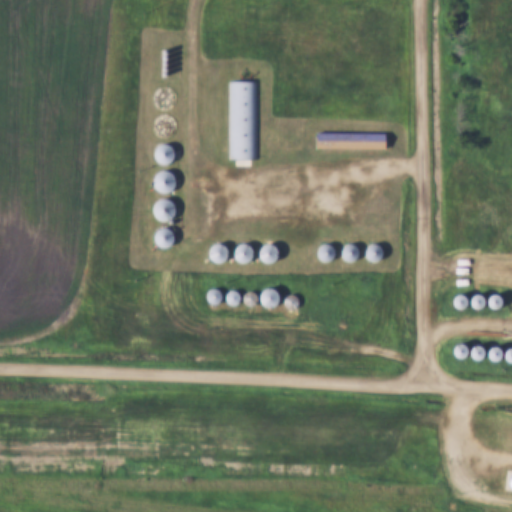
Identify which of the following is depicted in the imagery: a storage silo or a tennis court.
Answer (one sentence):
The one in the frame is a storage silo.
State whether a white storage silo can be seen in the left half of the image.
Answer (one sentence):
Yes, looking in the left half of the image, one can make out a white storage silo.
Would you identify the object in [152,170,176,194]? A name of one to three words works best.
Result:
silo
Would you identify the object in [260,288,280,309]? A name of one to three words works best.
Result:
silo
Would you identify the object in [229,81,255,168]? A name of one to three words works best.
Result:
shed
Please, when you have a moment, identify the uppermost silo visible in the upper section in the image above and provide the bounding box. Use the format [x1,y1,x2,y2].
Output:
[154,144,176,166]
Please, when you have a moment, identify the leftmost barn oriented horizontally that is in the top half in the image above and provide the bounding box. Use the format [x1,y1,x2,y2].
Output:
[316,132,388,150]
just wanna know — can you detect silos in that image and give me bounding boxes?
[206,289,223,306]
[152,170,176,194]
[453,294,470,311]
[226,290,242,306]
[243,292,258,308]
[232,244,254,264]
[154,228,175,250]
[341,244,360,263]
[317,244,336,263]
[453,344,470,360]
[365,244,384,263]
[470,294,487,311]
[260,288,280,309]
[154,144,176,166]
[284,294,300,310]
[259,240,280,265]
[488,294,504,311]
[206,244,229,264]
[470,346,487,362]
[488,347,504,363]
[152,199,176,223]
